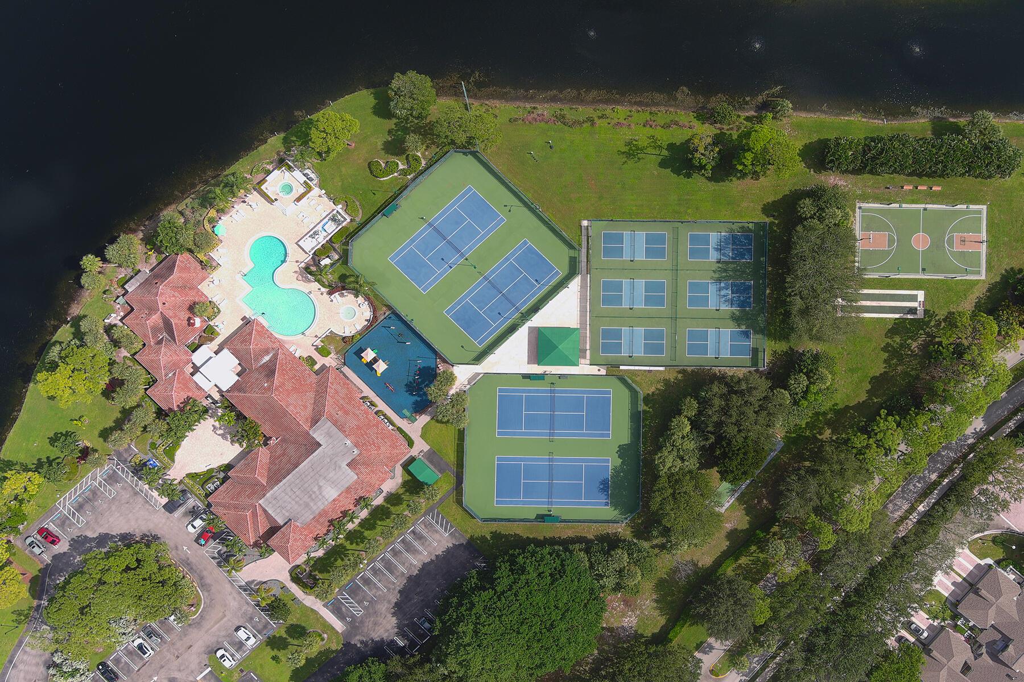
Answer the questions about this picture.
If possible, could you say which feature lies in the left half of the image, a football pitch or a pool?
pool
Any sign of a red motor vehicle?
Yes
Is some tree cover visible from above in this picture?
Yes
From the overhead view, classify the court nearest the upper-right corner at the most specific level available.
basketball court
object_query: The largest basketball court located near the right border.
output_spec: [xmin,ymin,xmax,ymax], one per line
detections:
[854,203,987,279]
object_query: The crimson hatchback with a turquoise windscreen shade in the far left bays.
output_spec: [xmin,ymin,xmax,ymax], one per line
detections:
[35,528,59,548]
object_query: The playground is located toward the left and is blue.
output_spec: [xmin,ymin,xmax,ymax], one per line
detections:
[345,312,436,419]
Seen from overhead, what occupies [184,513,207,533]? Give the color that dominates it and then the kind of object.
white car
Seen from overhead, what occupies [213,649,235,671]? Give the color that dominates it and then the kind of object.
white car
